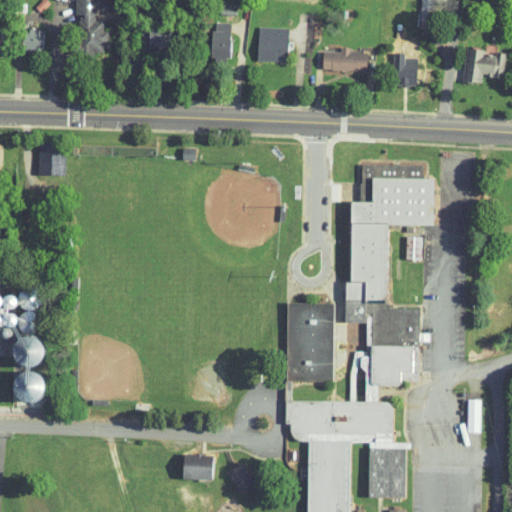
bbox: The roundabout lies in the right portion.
[290,238,332,288]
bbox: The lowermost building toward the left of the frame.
[184,455,216,482]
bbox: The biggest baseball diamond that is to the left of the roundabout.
[80,158,284,412]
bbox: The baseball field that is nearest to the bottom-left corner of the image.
[79,334,144,400]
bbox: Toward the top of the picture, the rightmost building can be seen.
[464,44,506,83]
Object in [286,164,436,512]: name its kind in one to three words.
building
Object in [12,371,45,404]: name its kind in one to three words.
silo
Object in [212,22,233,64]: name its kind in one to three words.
house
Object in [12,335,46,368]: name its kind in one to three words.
silo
